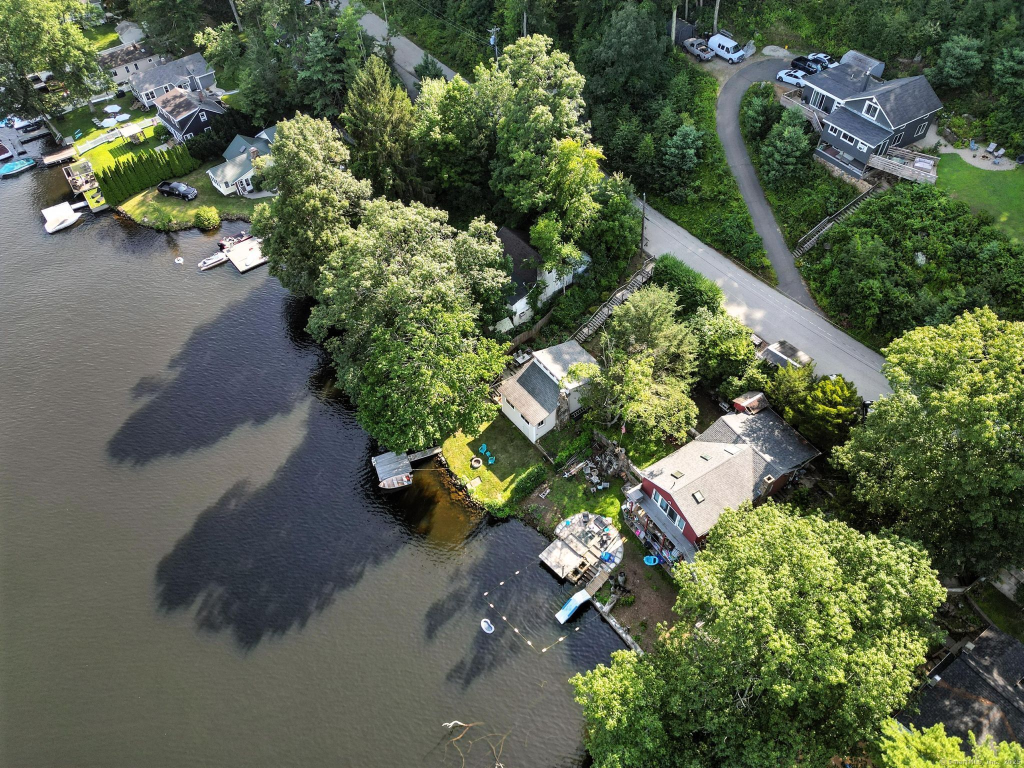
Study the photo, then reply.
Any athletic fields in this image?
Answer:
No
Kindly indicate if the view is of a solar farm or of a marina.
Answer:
marina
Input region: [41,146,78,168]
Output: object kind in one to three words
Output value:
pier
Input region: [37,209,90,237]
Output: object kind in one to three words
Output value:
boat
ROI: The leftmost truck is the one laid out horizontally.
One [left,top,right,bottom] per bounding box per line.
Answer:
[154,181,199,203]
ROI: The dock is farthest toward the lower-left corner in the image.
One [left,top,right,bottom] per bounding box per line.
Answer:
[371,450,411,483]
